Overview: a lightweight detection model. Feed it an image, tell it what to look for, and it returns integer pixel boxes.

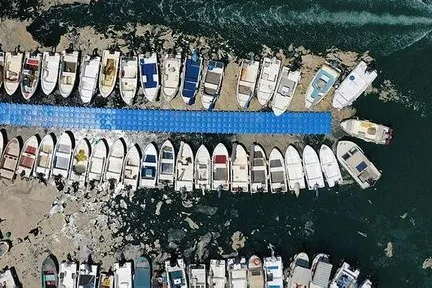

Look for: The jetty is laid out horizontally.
[0,102,333,136]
